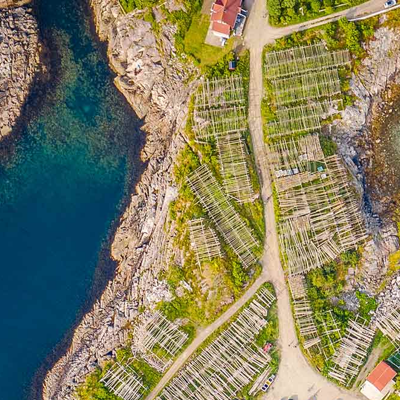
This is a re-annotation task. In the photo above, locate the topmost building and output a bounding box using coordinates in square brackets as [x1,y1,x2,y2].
[211,0,247,43]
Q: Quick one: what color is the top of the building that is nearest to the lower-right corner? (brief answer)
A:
red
